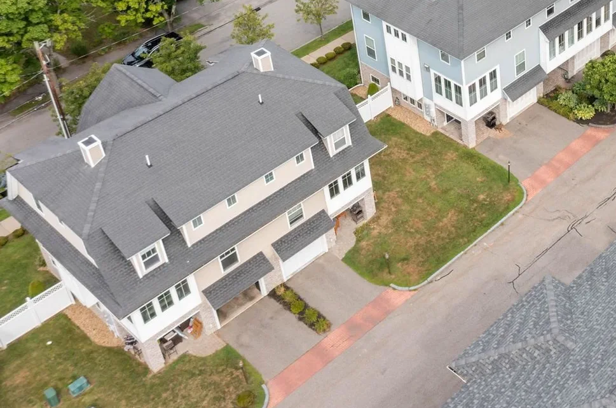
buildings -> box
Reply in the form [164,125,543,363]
[423,240,616,408]
[344,0,616,147]
[0,38,388,371]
